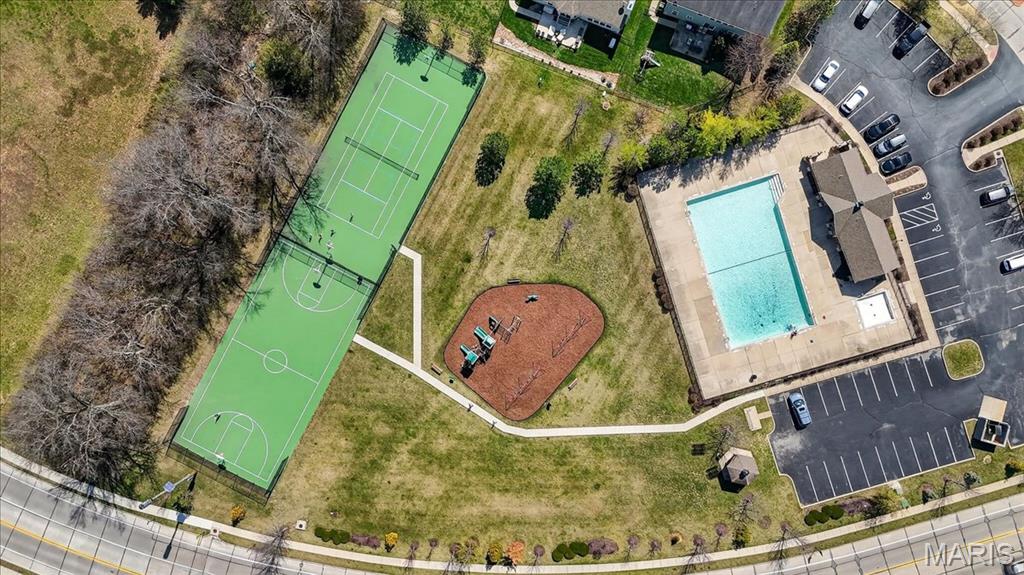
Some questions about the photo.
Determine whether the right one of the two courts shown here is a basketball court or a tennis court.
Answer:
tennis court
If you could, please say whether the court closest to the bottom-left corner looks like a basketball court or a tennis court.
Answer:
basketball court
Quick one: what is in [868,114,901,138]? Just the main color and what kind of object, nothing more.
black car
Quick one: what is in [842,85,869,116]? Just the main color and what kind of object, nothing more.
white car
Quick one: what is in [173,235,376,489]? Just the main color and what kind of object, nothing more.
green basketball court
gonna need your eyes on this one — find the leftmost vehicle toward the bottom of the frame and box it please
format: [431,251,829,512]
[791,396,812,428]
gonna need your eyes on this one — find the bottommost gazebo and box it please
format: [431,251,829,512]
[718,447,758,487]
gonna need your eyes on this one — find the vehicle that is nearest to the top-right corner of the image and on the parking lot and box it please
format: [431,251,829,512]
[897,21,932,56]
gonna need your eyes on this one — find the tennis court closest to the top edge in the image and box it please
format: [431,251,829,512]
[279,23,483,284]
